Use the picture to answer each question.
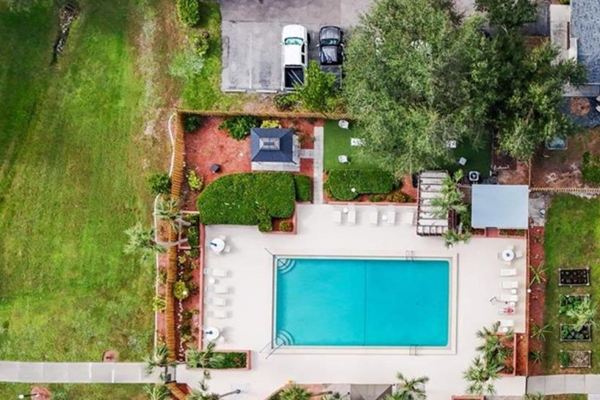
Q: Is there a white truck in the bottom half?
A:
No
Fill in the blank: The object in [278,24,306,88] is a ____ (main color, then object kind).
white truck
